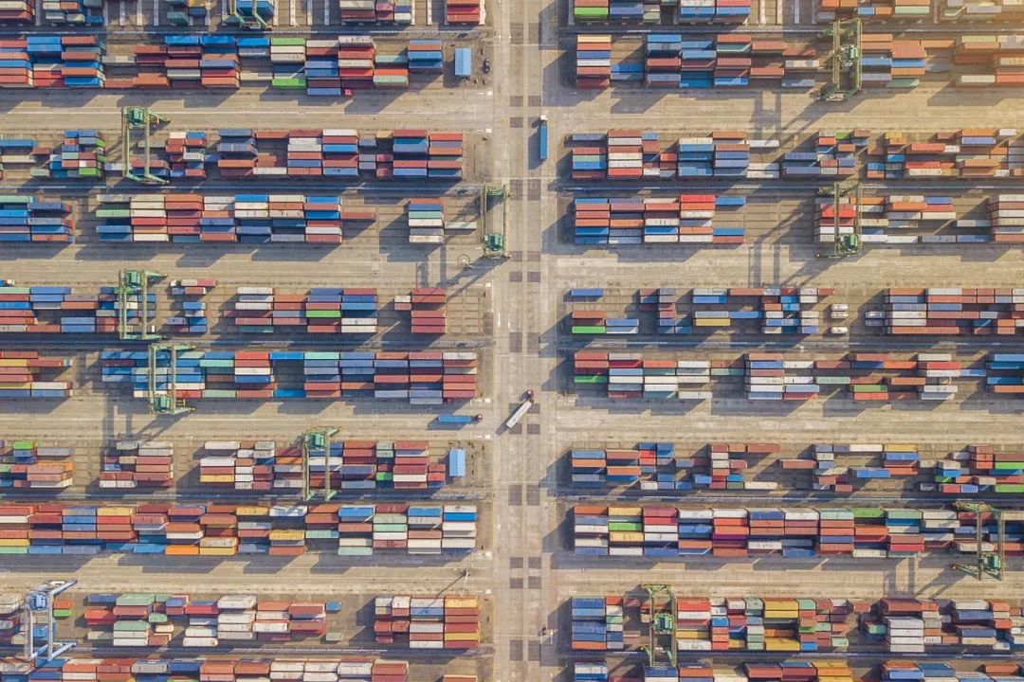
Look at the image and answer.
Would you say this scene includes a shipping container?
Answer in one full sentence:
Yes, the image includes a shipping container.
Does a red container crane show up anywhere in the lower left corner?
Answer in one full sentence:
No, I see no red container crane in the lower left corner.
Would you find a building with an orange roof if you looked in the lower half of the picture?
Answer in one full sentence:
No, no building with an orange roof is visible in the lower half of the picture.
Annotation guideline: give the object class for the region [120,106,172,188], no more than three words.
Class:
container crane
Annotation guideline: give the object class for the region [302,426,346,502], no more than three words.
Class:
container crane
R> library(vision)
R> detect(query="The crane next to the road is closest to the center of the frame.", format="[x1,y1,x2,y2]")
[478,184,516,258]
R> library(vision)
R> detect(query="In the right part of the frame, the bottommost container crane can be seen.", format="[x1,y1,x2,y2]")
[639,583,678,666]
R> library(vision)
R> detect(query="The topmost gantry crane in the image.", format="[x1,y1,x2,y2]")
[228,0,275,33]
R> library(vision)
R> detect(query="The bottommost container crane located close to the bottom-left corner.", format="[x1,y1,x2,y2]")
[23,574,78,660]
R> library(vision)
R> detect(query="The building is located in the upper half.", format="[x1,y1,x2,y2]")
[455,47,471,77]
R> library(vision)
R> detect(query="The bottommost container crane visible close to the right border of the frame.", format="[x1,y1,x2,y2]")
[954,504,1007,584]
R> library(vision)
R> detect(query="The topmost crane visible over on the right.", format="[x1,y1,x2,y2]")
[817,20,864,107]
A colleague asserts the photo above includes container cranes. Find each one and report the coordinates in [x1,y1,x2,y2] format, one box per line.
[23,574,78,660]
[228,0,275,33]
[118,266,169,341]
[817,20,864,107]
[147,345,198,418]
[639,583,678,666]
[954,504,1007,584]
[478,184,516,258]
[120,106,172,188]
[816,184,863,258]
[302,426,346,502]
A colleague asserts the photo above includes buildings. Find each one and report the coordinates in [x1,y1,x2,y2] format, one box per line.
[449,448,466,476]
[455,47,471,77]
